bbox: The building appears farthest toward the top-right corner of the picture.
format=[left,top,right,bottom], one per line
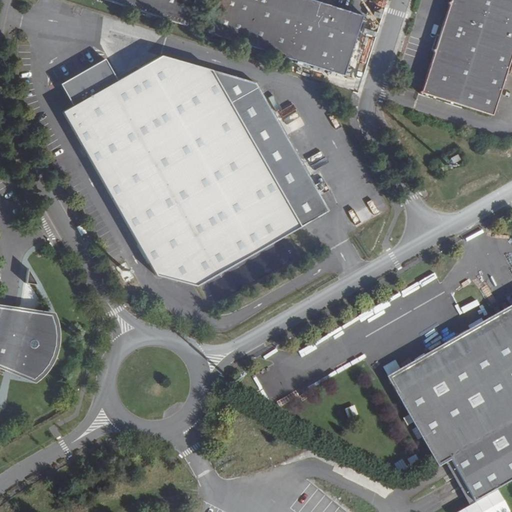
[420,0,512,118]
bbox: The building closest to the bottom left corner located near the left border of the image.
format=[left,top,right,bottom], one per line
[0,306,62,383]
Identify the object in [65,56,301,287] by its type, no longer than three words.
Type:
warehouse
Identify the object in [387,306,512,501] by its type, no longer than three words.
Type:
building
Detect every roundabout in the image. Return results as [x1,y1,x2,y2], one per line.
[100,328,208,436]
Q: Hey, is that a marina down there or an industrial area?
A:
industrial area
